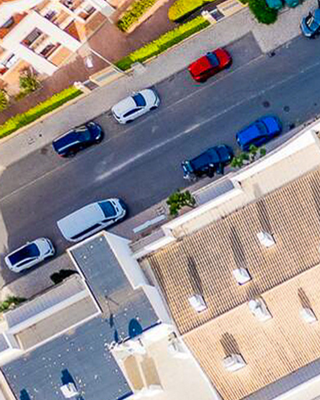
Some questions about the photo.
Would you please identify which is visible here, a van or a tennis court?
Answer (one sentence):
The image shows a van.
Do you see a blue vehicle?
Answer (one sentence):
Yes, I can see a blue vehicle in this picture.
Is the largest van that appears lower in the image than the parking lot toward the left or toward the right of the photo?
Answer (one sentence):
The largest van that appears lower in the image than the parking lot appears in the left half of the scene.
